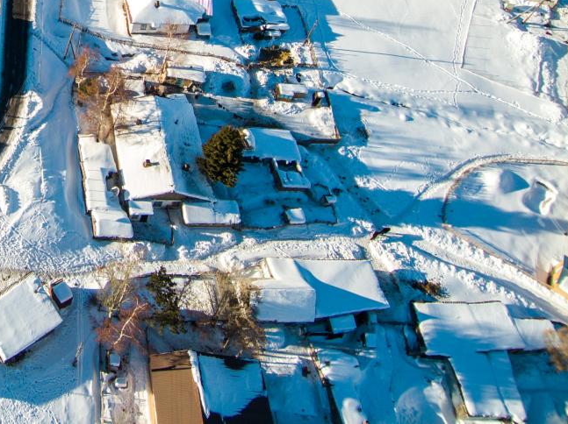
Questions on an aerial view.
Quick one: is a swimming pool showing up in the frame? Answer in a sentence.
No, I can't see a single swimming pool in this photo.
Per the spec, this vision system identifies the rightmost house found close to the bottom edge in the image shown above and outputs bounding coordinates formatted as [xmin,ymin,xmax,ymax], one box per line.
[399,298,560,424]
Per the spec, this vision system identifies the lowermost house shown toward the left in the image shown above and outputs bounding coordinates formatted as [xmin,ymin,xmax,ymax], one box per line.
[148,348,268,424]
